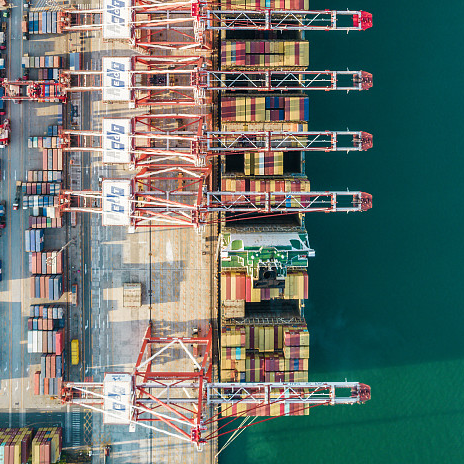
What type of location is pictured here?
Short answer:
port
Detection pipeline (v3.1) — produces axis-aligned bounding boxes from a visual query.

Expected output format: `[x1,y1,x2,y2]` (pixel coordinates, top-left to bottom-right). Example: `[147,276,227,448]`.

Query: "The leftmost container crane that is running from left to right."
[0,73,69,108]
